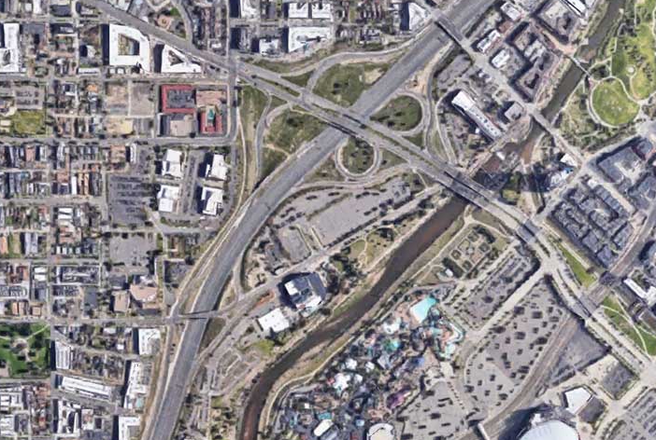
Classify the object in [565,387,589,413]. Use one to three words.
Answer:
building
